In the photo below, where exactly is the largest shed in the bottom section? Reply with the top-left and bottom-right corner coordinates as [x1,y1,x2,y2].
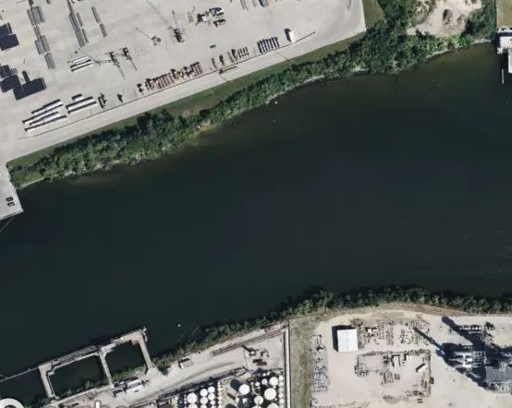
[336,329,357,352]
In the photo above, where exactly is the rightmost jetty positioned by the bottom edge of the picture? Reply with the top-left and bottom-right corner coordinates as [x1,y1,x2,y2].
[38,327,153,398]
